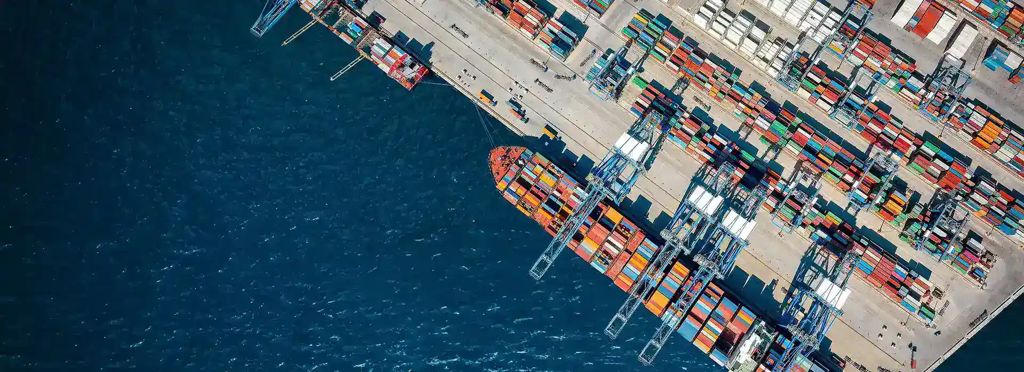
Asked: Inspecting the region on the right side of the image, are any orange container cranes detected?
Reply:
No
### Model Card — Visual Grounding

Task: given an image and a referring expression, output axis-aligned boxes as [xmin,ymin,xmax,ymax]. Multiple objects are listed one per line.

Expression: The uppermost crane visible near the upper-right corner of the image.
[822,0,880,61]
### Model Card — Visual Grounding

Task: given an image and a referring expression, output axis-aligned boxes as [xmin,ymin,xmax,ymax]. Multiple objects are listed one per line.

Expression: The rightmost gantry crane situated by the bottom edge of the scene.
[768,252,865,372]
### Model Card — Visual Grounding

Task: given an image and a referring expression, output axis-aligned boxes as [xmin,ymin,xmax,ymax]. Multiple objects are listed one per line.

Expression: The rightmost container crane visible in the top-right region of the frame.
[915,62,978,125]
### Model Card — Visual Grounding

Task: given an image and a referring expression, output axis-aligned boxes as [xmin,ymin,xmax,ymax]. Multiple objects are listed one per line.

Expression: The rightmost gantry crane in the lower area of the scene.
[911,202,975,261]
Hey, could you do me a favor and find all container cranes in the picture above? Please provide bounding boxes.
[827,69,886,130]
[601,163,738,342]
[527,110,663,283]
[911,202,975,261]
[634,186,773,368]
[915,62,978,125]
[589,44,638,103]
[842,152,901,212]
[822,0,880,61]
[250,0,290,41]
[775,33,830,94]
[768,176,824,234]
